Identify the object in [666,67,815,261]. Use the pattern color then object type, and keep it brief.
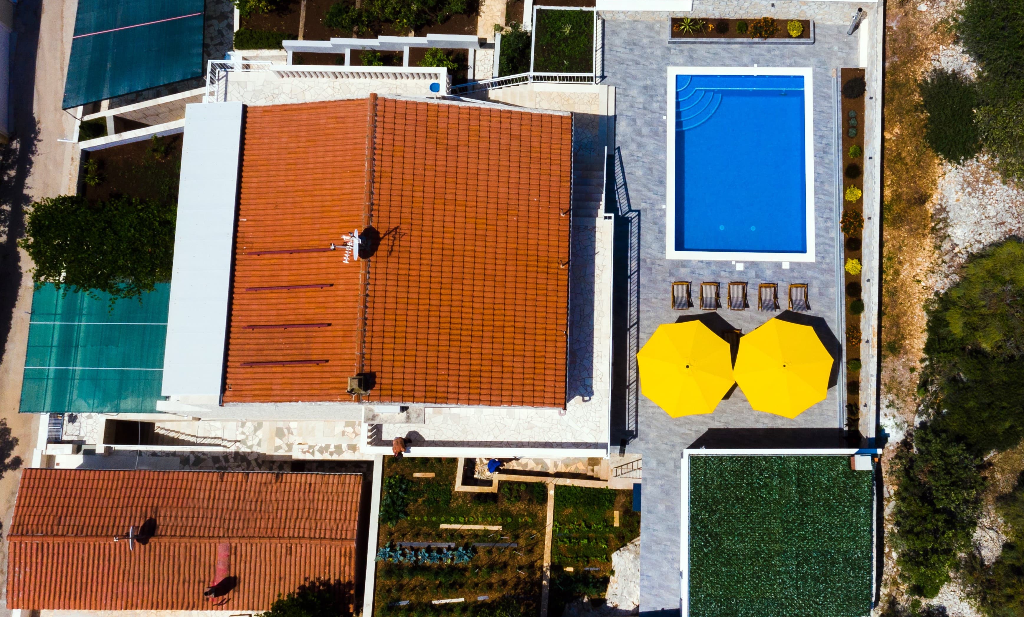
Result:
blue swimming pool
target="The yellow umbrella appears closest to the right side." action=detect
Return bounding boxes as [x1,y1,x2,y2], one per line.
[731,316,834,420]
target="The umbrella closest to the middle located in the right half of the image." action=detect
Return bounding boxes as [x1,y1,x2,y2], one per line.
[636,319,736,418]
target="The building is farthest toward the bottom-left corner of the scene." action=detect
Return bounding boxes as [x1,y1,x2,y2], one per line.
[5,468,372,615]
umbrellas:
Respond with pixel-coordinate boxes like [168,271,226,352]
[731,316,834,420]
[636,319,736,418]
